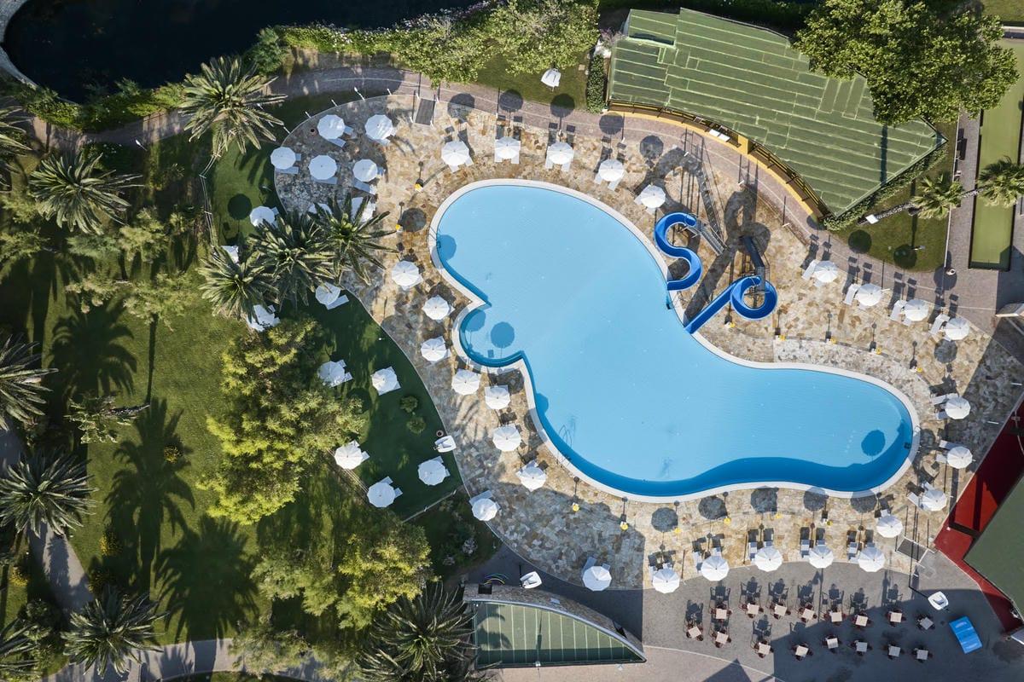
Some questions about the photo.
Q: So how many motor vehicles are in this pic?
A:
0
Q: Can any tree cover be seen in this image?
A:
Yes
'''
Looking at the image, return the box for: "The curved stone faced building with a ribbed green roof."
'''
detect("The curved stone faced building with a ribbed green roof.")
[472,582,648,672]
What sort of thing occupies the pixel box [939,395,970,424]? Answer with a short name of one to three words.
umbrella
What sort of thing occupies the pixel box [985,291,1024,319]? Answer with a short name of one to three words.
shed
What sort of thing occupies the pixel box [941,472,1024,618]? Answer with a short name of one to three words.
building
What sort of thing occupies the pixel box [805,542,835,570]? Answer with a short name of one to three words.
umbrella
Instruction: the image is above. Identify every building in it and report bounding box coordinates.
[985,291,1024,319]
[472,582,648,672]
[603,5,951,222]
[941,472,1024,618]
